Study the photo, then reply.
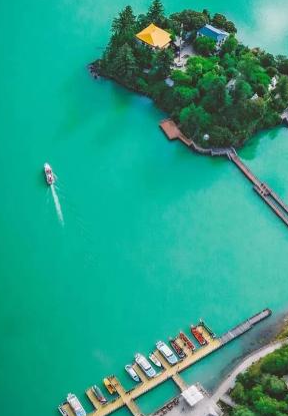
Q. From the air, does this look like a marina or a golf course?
marina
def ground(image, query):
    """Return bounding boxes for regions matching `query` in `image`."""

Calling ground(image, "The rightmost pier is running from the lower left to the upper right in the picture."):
[218,310,272,348]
